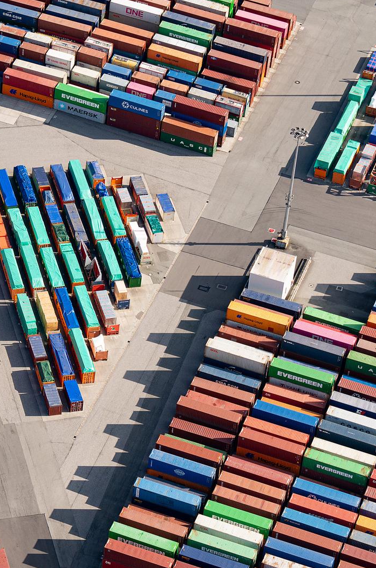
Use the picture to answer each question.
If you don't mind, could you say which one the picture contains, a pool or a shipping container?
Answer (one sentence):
The one in the frame is a shipping container.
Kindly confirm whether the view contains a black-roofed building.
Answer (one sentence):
No, I can see no black-roofed building in this picture.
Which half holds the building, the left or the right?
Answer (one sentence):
It is on the right.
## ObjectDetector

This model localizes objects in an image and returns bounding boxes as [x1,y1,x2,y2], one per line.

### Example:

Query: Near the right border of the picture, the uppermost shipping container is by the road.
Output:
[346,73,372,114]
